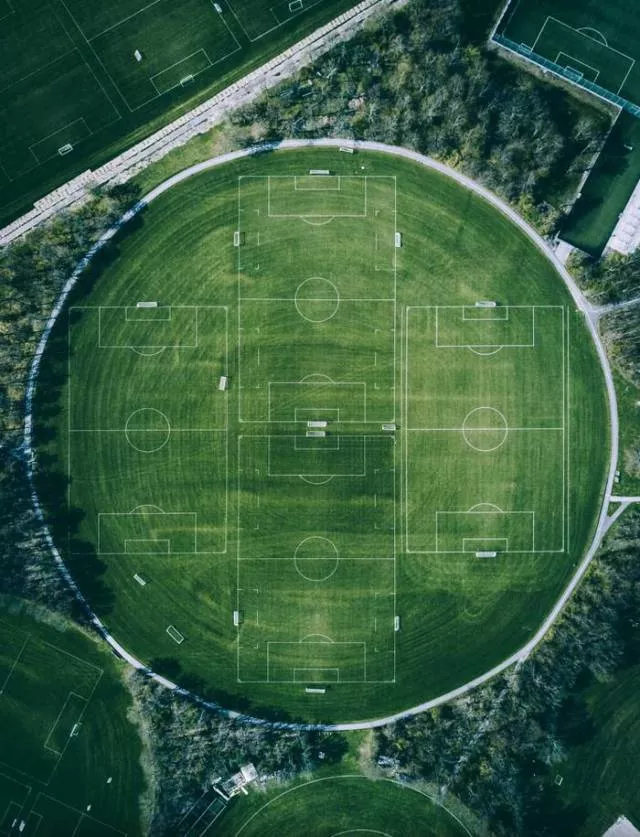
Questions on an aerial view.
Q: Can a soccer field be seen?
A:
Yes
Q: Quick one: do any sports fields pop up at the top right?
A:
Yes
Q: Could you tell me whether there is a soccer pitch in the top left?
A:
Yes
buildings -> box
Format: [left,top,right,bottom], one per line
[604,817,640,837]
[222,764,257,799]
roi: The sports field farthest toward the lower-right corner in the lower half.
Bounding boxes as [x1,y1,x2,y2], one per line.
[228,770,477,837]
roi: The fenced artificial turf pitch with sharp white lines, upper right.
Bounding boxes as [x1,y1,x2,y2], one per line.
[486,0,640,123]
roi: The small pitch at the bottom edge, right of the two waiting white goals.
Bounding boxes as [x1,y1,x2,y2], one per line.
[19,793,127,837]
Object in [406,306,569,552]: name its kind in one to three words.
soccer field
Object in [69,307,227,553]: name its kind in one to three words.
soccer field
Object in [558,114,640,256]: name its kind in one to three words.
sports field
